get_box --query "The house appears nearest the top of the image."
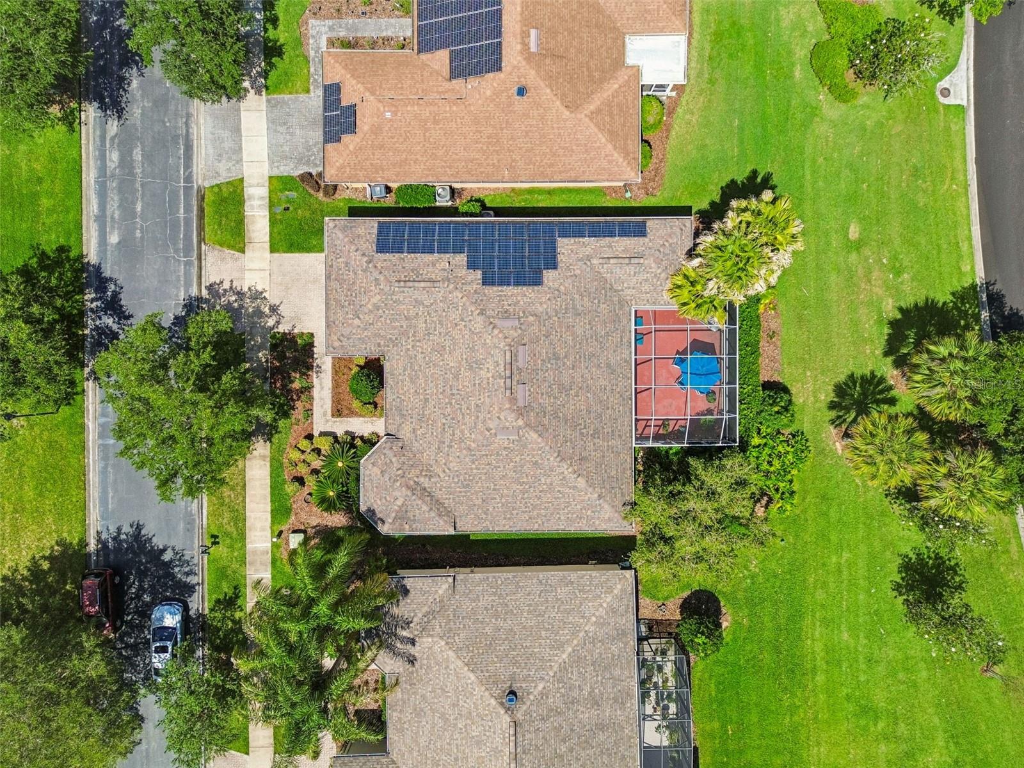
[321,0,690,204]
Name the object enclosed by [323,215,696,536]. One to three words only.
house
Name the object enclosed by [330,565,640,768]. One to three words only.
house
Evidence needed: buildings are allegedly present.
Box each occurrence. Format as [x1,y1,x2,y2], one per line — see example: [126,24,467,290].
[330,565,640,768]
[323,215,696,536]
[321,0,690,204]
